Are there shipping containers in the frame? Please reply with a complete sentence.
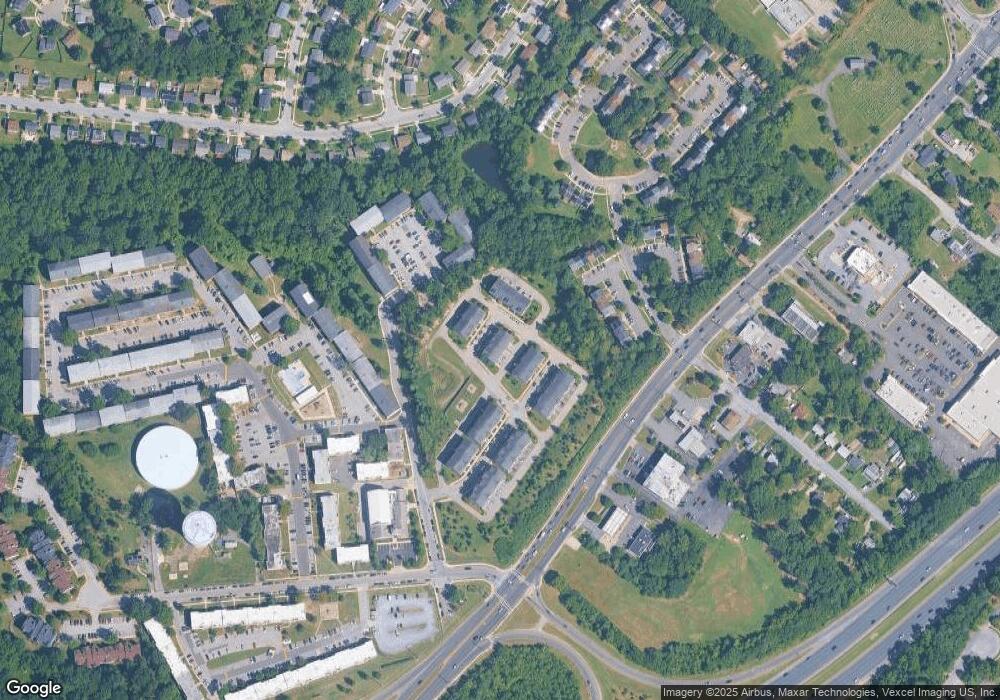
No, no shipping container is visible in the view.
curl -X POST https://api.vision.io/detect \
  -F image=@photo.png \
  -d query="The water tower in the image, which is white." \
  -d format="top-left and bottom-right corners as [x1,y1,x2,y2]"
[179,515,212,547]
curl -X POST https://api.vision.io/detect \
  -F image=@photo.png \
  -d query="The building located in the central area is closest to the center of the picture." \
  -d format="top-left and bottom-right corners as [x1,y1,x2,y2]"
[479,328,517,367]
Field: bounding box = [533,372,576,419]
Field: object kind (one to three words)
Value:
building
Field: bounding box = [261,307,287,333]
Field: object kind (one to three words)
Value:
building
